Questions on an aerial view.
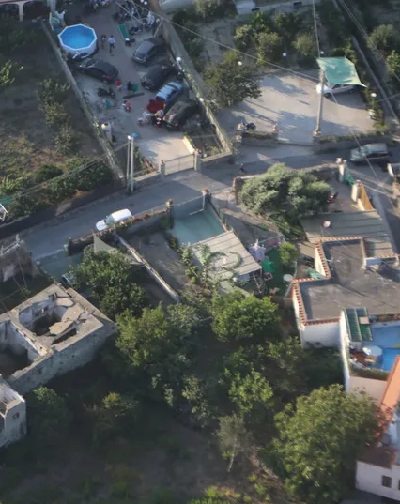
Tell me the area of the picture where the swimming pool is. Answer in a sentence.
The swimming pool is in the top left part of the image.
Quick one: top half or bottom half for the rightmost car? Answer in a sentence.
It is in the top half that the rightmost car appears.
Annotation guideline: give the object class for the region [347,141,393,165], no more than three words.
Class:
car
